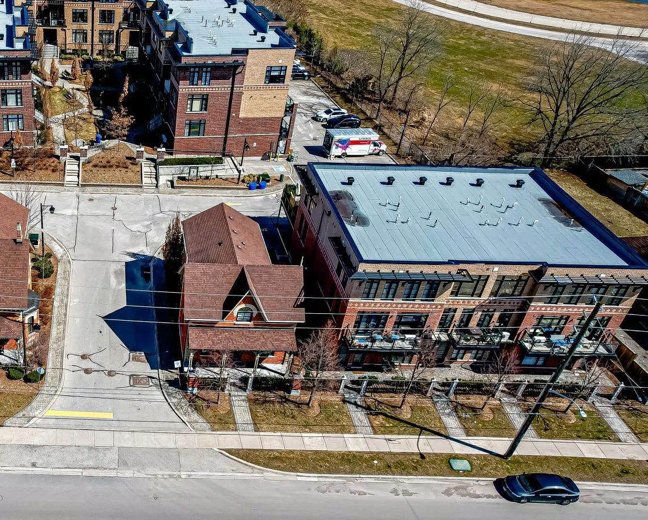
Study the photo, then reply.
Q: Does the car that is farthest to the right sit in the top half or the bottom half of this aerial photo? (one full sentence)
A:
The car that is farthest to the right sits in the bottom half of the picture.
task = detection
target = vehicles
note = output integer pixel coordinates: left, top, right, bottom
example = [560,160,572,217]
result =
[498,474,579,510]
[294,67,317,82]
[327,115,364,129]
[315,106,350,122]
[326,128,393,159]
